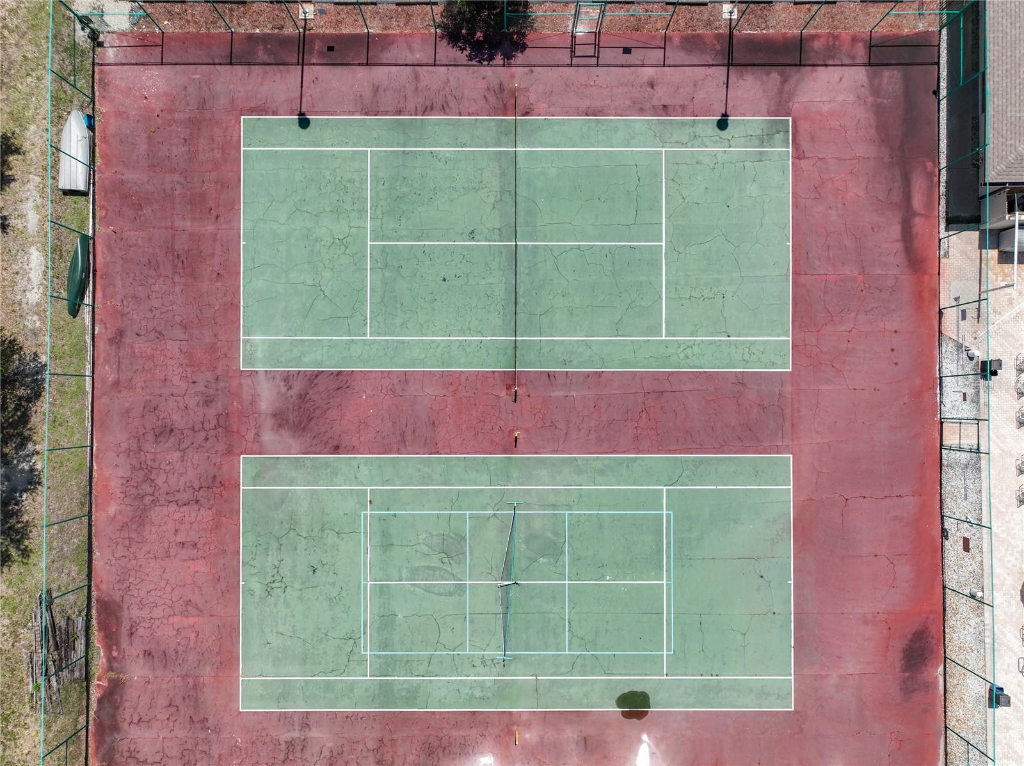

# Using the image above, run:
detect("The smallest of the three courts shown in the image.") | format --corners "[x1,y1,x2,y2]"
[362,512,673,654]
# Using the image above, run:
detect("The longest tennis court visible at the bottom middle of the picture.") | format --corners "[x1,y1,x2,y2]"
[240,455,794,711]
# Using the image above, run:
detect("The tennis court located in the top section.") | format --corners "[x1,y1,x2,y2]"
[241,116,792,371]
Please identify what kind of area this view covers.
sports ground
